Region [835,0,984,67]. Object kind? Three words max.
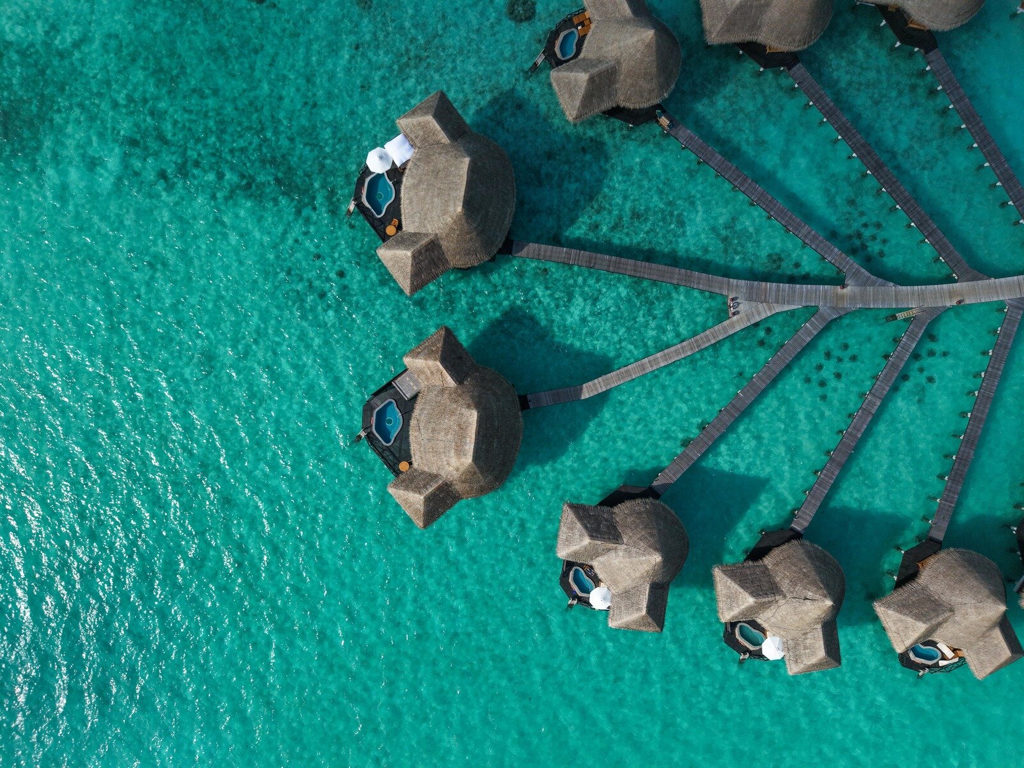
house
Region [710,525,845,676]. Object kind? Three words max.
house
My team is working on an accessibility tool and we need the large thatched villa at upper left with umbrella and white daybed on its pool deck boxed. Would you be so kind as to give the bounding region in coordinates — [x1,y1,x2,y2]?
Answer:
[345,90,516,297]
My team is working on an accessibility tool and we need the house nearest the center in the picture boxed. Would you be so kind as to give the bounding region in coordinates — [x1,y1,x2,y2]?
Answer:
[354,326,528,528]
